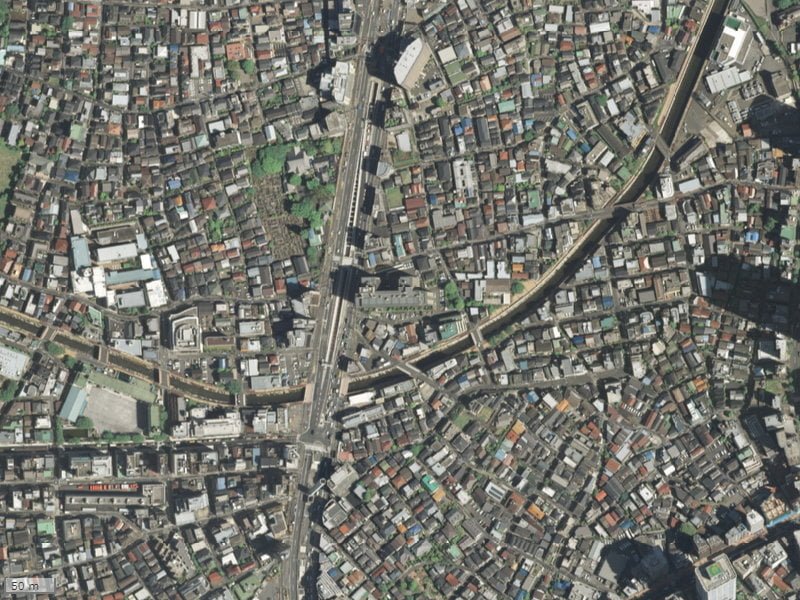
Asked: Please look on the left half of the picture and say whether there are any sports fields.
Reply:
Yes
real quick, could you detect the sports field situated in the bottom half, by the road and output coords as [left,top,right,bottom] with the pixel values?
[86,384,151,435]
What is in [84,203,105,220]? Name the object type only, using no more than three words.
house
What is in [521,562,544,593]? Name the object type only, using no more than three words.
building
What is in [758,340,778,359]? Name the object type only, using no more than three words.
building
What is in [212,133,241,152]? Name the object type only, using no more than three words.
house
